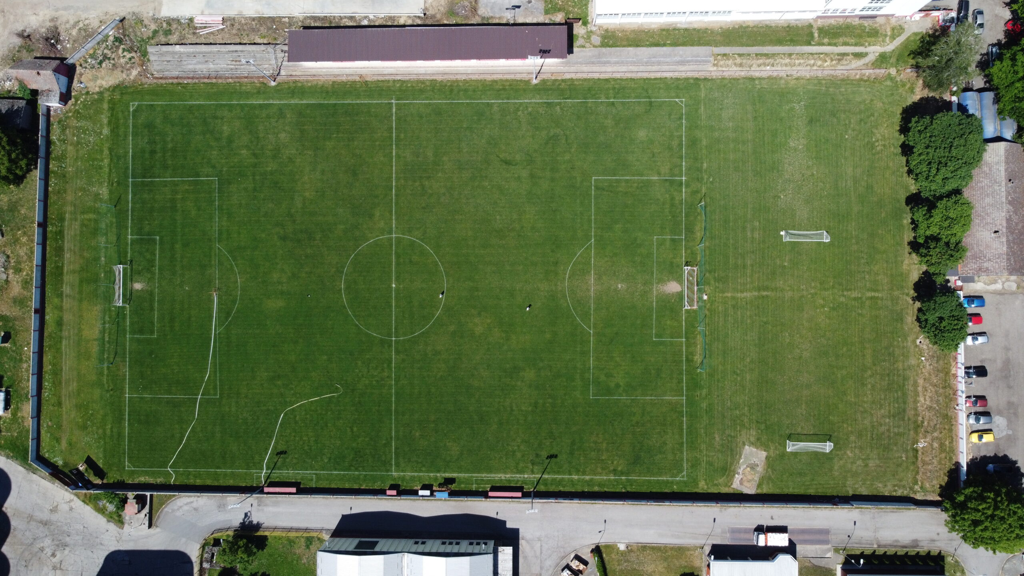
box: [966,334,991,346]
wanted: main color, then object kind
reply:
white vehicle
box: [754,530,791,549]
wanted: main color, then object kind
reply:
white vehicle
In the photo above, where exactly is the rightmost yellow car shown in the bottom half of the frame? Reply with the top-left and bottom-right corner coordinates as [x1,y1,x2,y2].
[969,431,997,444]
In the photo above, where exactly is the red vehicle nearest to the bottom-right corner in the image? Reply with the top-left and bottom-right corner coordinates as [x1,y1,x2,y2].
[967,397,990,410]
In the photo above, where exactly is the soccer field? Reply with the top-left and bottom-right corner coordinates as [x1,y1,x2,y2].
[109,81,704,490]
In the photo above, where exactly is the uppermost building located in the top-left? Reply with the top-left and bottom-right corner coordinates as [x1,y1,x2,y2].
[9,61,70,106]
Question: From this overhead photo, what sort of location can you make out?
sports ground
